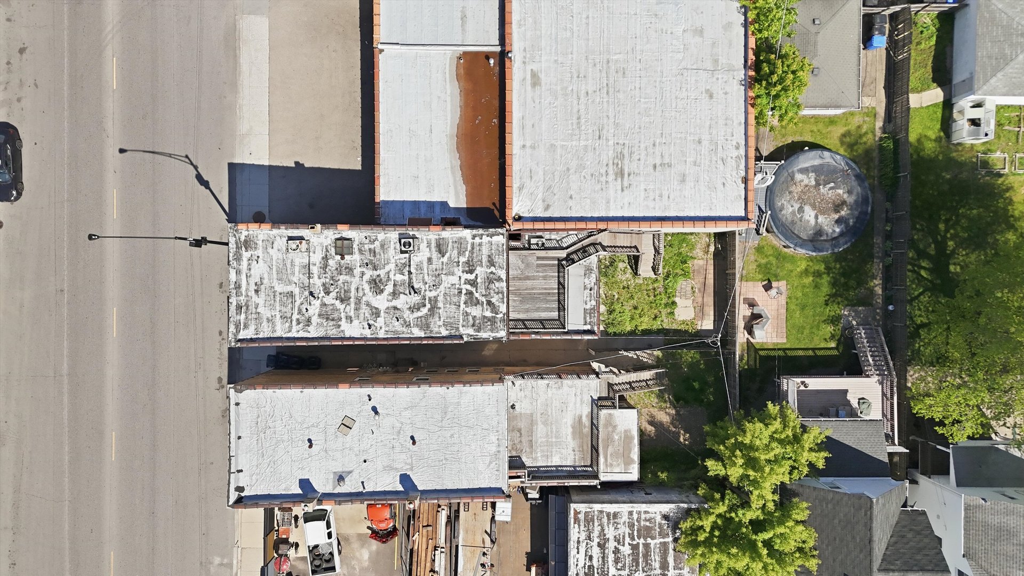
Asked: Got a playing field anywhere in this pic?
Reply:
No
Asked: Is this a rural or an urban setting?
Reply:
urban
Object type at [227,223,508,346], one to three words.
building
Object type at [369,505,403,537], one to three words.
work vehicle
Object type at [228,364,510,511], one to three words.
building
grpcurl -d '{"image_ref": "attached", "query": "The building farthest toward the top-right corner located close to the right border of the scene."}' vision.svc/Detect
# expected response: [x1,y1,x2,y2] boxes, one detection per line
[952,0,1024,104]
